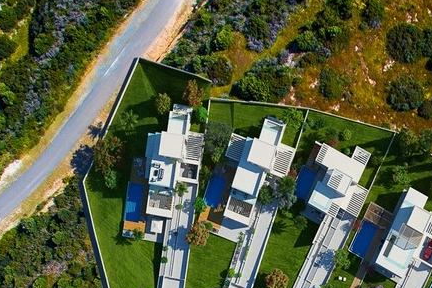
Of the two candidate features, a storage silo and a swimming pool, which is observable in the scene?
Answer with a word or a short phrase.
swimming pool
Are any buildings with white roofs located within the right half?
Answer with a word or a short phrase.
Yes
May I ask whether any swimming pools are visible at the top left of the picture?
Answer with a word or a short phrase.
No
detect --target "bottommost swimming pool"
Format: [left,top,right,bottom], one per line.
[349,218,379,259]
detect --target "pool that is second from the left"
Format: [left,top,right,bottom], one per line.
[203,175,226,209]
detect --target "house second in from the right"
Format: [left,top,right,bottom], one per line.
[308,141,371,218]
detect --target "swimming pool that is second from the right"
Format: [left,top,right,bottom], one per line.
[293,165,318,201]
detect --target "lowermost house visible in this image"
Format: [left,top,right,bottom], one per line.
[373,187,432,280]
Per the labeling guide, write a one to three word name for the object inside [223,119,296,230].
house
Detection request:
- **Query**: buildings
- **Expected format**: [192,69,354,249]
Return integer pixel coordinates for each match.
[373,187,432,280]
[308,141,371,218]
[145,104,206,234]
[223,119,296,230]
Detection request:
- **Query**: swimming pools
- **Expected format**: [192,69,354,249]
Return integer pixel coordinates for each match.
[293,165,318,201]
[203,175,226,209]
[123,181,144,223]
[349,218,379,259]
